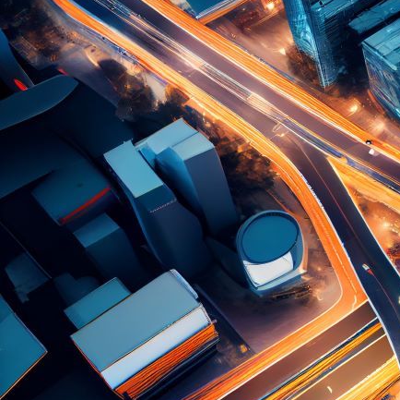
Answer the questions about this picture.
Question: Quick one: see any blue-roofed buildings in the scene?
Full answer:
Yes, the image includes a blue-roofed building.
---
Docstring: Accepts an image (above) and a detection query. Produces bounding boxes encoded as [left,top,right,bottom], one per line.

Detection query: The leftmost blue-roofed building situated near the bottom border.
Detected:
[0,295,65,400]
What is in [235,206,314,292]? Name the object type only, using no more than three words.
building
